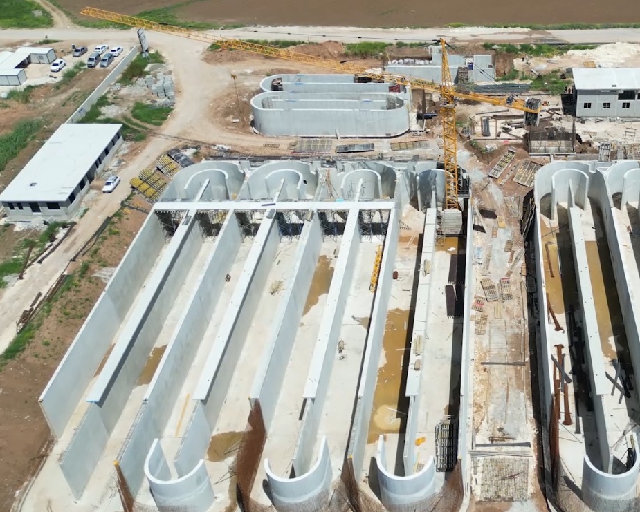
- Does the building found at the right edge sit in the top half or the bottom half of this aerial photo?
top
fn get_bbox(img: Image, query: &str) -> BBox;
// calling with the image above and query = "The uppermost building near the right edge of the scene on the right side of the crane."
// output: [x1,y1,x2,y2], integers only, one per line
[570,60,640,118]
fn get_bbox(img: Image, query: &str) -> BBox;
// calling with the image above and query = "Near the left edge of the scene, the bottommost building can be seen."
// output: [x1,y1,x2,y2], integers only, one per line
[0,122,123,220]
